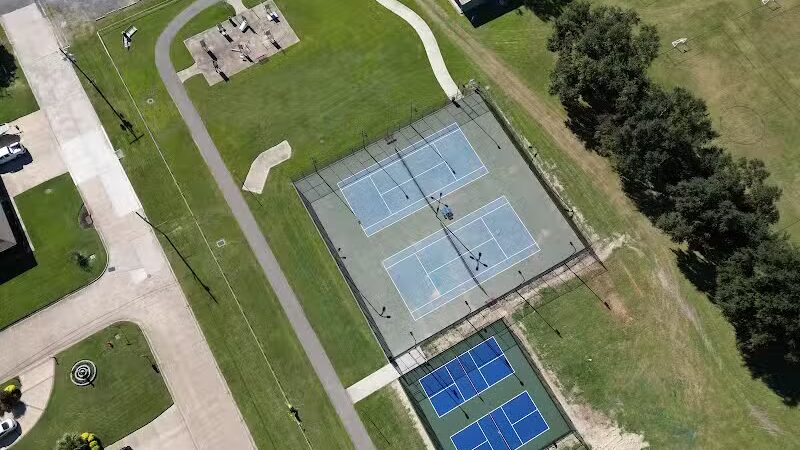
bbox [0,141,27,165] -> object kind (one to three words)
truck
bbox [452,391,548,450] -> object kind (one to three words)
sports court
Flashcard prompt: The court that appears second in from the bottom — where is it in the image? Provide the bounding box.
[420,338,514,416]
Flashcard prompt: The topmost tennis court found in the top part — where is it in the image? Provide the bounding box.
[338,123,488,237]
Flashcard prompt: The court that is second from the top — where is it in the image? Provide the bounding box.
[384,196,541,320]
